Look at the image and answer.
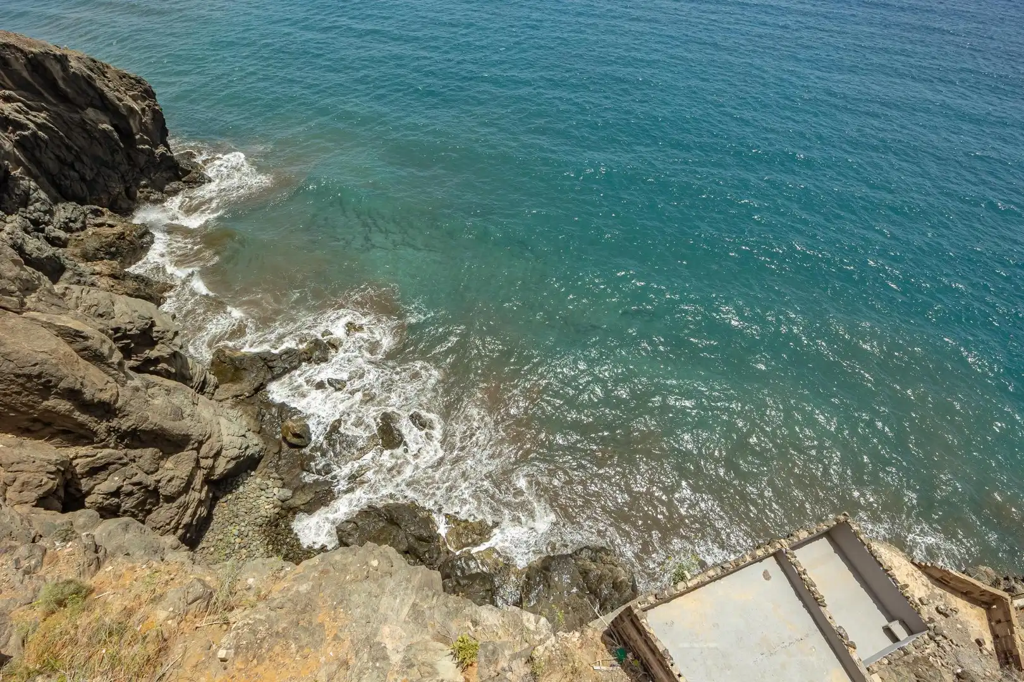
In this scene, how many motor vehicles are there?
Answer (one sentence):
The count of motor vehicles is 0.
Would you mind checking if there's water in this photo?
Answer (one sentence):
Yes, there's water in this view.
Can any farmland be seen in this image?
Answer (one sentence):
No, there's no farmland in this view.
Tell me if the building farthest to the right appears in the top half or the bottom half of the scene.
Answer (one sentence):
The building farthest to the right is in the bottom half of the image.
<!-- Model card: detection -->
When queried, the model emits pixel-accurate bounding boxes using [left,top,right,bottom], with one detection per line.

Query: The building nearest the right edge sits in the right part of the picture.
[615,518,936,682]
